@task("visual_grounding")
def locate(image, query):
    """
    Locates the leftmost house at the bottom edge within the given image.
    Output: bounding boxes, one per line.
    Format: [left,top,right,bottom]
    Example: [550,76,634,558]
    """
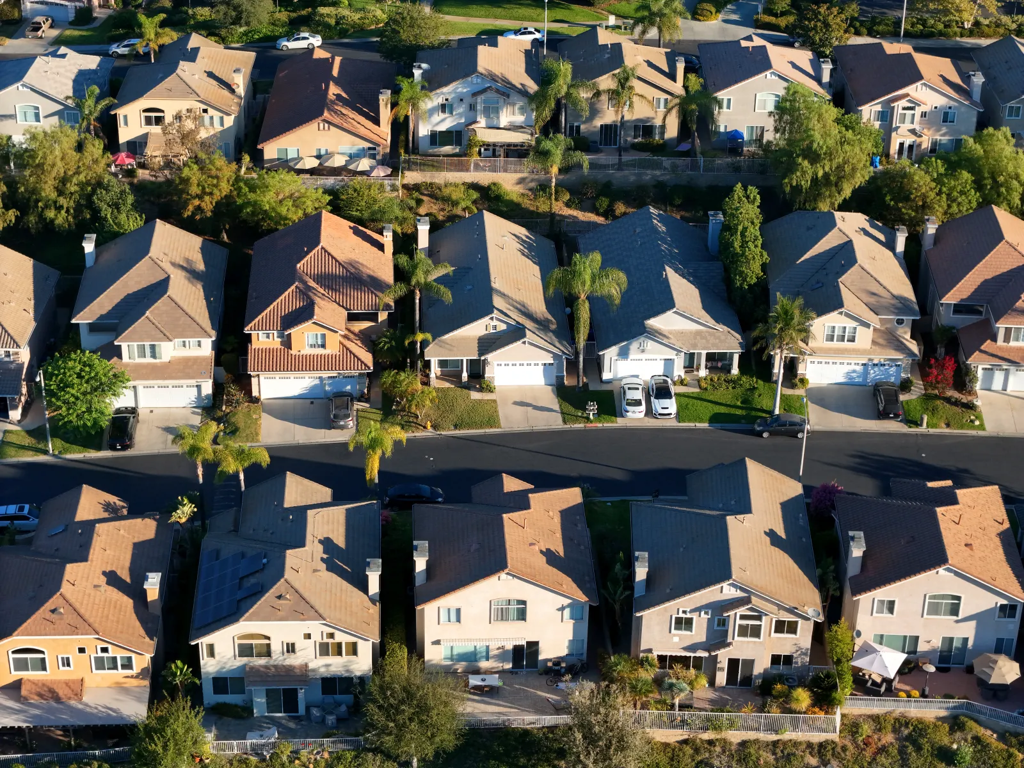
[0,483,178,762]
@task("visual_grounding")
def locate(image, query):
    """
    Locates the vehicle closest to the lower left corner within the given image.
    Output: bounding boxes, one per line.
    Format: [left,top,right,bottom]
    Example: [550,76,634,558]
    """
[0,503,32,533]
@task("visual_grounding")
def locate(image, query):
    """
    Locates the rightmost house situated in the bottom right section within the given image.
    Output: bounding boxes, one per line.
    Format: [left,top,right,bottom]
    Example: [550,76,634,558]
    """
[829,461,1024,663]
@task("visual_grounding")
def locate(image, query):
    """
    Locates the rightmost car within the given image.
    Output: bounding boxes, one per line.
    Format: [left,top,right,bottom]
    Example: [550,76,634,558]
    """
[875,380,905,421]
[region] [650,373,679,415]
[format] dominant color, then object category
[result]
white car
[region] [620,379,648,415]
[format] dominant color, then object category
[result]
white car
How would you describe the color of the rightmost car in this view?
black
